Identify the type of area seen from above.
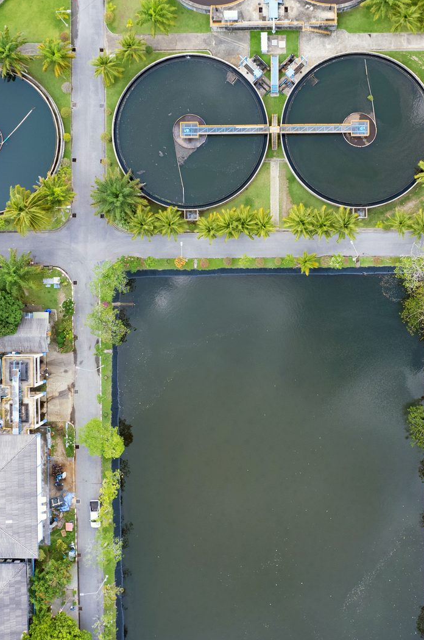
industrial area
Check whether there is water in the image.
Yes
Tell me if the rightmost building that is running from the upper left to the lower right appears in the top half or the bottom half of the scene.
top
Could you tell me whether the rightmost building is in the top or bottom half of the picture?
top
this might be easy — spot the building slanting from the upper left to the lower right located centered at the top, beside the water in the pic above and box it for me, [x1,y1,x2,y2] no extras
[237,55,271,95]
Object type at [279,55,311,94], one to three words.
building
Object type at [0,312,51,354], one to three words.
shed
